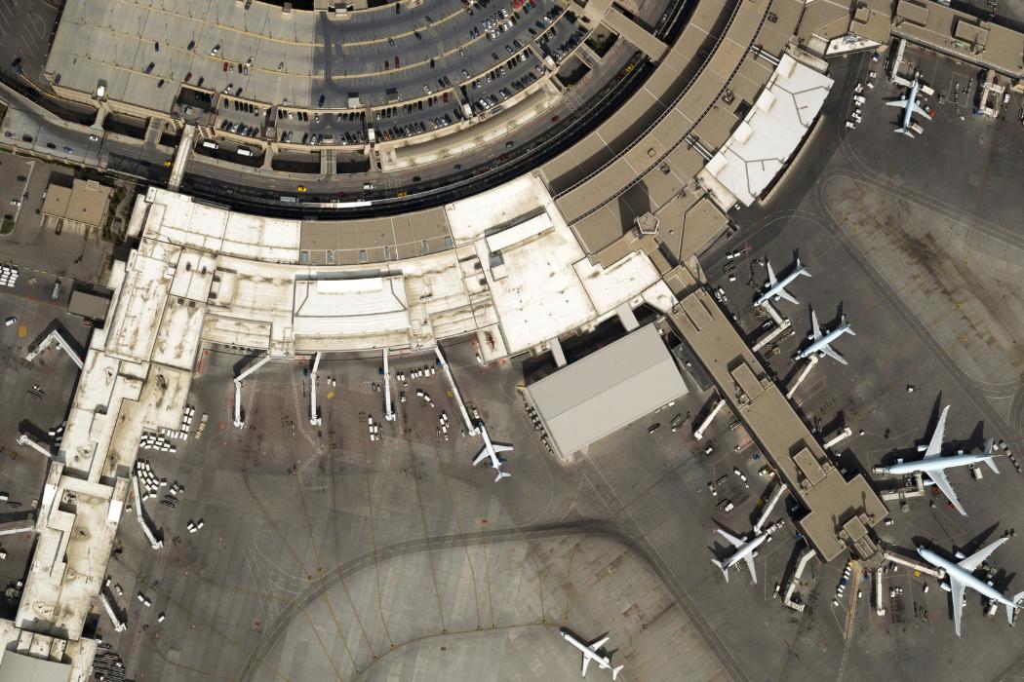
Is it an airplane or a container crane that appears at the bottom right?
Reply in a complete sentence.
The feature located at the bottom right is an airplane.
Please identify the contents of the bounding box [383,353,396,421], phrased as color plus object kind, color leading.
white jet bridge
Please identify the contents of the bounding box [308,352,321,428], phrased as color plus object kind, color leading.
white jet bridge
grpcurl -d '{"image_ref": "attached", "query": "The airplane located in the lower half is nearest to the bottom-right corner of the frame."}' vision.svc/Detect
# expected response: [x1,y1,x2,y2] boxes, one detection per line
[919,537,1024,637]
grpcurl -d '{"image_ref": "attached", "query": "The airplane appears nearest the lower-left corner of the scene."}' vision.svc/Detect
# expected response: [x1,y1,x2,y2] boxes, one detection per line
[474,423,515,482]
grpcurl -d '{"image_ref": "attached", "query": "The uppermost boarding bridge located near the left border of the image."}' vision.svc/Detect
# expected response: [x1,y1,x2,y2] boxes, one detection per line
[22,330,85,368]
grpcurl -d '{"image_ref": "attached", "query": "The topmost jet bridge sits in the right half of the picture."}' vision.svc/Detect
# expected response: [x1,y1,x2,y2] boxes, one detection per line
[890,42,915,90]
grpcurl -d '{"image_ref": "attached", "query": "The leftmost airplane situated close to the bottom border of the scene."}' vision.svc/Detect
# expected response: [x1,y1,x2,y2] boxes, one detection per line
[562,633,623,679]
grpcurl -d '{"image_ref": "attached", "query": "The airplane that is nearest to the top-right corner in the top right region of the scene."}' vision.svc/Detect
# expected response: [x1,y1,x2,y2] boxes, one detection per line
[884,79,935,135]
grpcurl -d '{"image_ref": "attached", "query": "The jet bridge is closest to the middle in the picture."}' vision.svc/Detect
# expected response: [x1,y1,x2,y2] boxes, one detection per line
[435,346,479,435]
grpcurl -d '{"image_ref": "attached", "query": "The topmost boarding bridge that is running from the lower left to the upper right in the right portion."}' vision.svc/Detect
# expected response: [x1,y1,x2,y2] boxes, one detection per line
[786,352,816,398]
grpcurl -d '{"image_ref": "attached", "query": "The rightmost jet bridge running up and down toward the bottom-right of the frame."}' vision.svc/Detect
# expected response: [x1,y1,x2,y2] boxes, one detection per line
[872,569,888,615]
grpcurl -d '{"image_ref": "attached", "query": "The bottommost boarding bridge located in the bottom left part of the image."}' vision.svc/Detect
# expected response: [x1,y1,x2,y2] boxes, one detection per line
[100,595,126,632]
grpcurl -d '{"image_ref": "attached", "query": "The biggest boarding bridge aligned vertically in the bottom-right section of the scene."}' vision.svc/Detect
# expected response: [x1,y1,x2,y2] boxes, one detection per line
[783,550,816,613]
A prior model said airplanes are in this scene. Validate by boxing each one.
[474,423,515,482]
[562,633,623,679]
[886,404,1005,517]
[884,79,935,135]
[800,308,857,362]
[753,258,812,306]
[919,537,1024,637]
[714,530,769,584]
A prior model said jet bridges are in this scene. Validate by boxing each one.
[383,353,396,421]
[232,354,270,431]
[823,426,851,449]
[989,83,1004,112]
[0,525,37,536]
[884,554,945,578]
[22,330,85,368]
[752,296,787,352]
[786,352,816,398]
[17,436,53,459]
[690,400,725,441]
[435,346,479,435]
[308,352,321,428]
[783,550,816,613]
[131,477,165,551]
[880,470,925,500]
[872,569,888,615]
[979,73,1001,120]
[100,595,126,632]
[749,484,787,536]
[890,42,915,90]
